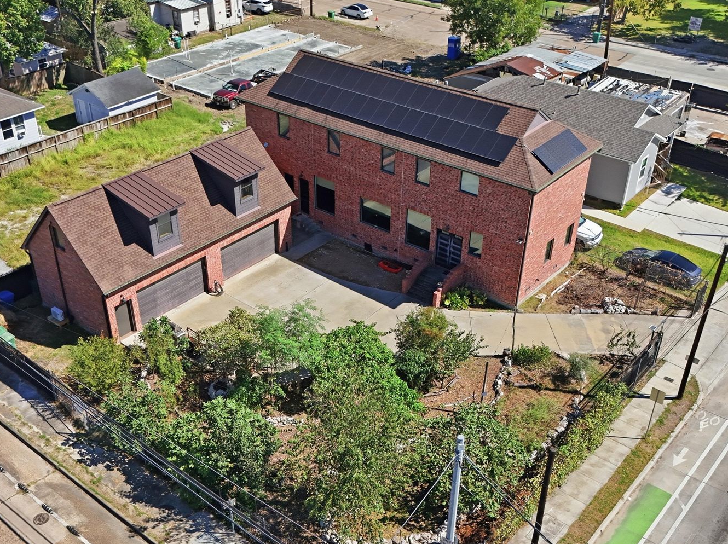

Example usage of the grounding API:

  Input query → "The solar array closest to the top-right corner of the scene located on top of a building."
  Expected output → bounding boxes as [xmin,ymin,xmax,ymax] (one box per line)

[533,130,589,175]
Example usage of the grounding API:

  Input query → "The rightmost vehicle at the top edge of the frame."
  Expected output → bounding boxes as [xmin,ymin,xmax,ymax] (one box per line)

[337,3,375,21]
